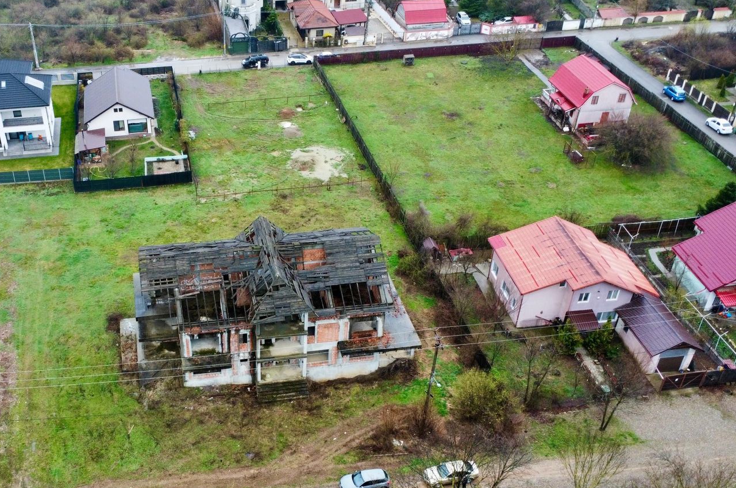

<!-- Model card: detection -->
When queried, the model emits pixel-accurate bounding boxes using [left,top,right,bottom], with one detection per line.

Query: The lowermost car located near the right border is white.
[706,118,736,136]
